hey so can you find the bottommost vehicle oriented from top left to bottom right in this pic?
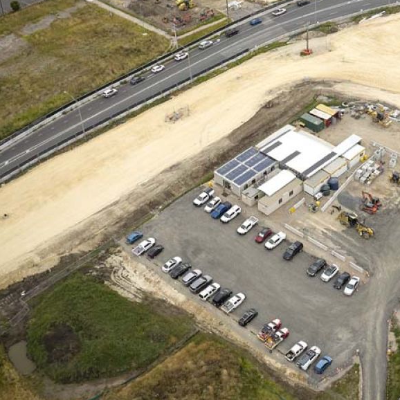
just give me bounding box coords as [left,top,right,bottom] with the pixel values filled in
[339,211,376,239]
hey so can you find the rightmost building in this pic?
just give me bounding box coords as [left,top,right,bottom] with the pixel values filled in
[341,144,365,169]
